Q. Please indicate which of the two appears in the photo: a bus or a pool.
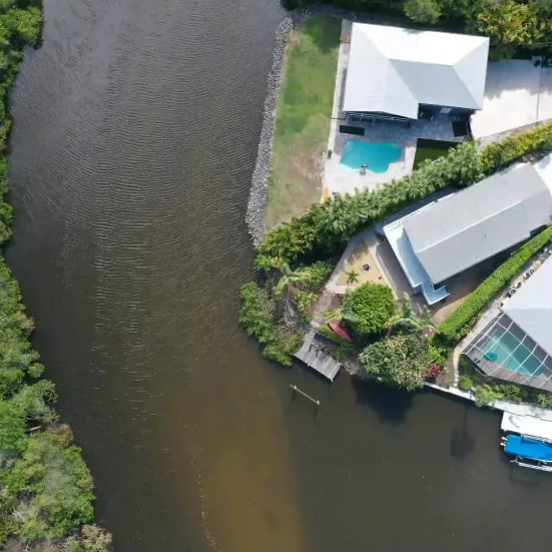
pool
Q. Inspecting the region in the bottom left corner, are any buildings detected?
No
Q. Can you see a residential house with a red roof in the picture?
No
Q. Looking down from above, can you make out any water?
Yes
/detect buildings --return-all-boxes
[382,164,552,304]
[343,23,490,128]
[499,255,552,357]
